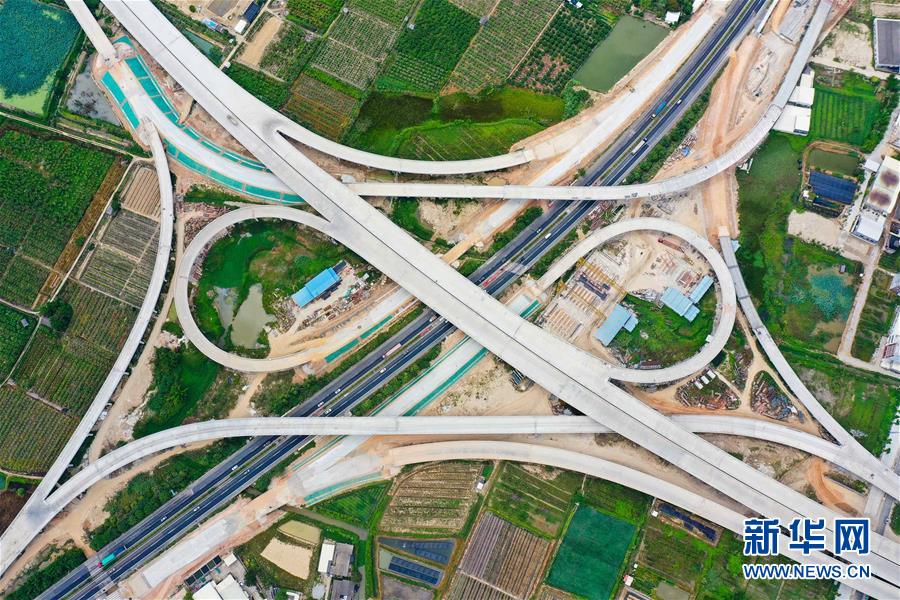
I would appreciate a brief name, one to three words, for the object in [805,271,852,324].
pond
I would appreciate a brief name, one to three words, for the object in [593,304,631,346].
shed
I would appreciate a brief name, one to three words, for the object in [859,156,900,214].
building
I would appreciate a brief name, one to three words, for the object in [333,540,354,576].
house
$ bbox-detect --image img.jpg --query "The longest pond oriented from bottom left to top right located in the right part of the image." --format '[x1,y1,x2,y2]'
[573,16,671,92]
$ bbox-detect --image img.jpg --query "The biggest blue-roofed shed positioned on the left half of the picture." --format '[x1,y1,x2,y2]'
[292,266,340,308]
